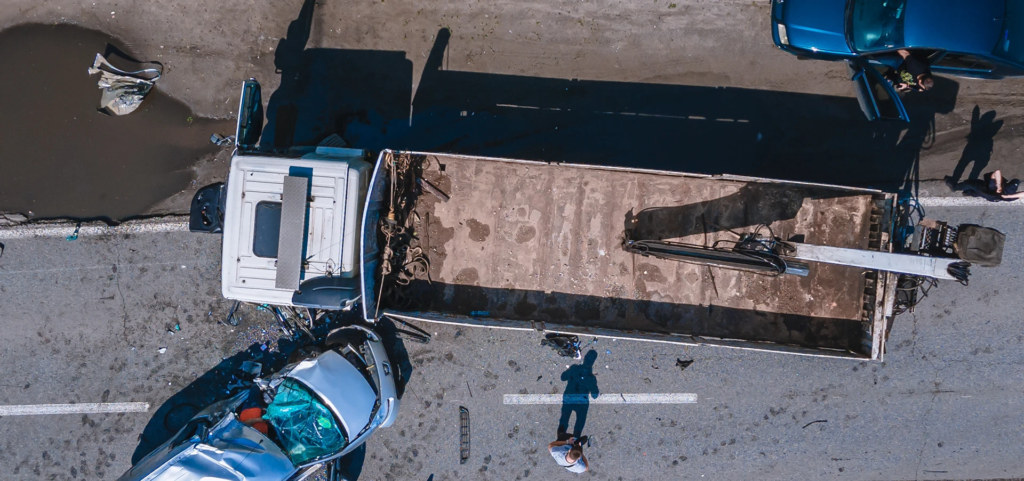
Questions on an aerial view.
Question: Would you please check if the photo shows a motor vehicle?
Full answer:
Yes, a motor vehicle can be made out from above.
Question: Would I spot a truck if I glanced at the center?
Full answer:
Yes, I can see a truck at the center.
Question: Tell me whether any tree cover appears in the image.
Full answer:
No, tree cover can't be seen anywhere here.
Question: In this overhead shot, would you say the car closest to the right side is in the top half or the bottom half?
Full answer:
The car closest to the right side is in the top half of the image.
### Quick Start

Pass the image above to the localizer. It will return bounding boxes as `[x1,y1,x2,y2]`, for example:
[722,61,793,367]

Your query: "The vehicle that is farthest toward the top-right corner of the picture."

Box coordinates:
[767,0,1024,121]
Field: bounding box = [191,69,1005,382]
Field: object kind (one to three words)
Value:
truck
